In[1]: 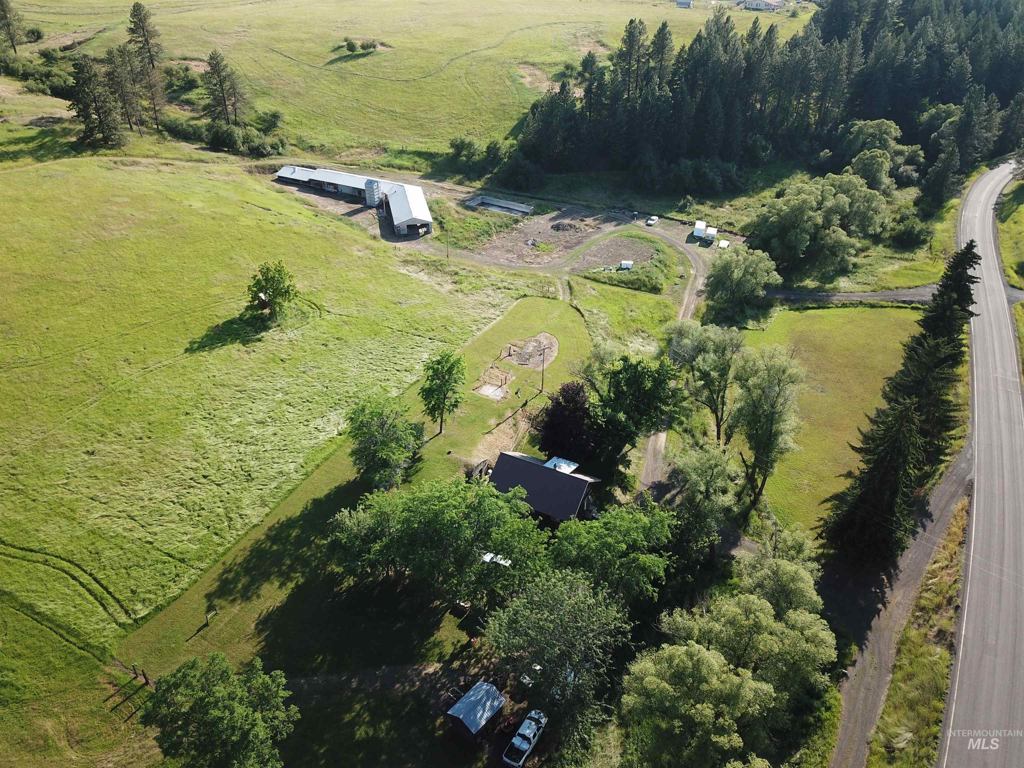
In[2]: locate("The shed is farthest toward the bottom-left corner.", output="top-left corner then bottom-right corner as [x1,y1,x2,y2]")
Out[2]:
[447,682,505,746]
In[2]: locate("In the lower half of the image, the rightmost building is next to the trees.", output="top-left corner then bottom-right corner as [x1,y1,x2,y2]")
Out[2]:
[487,451,601,529]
